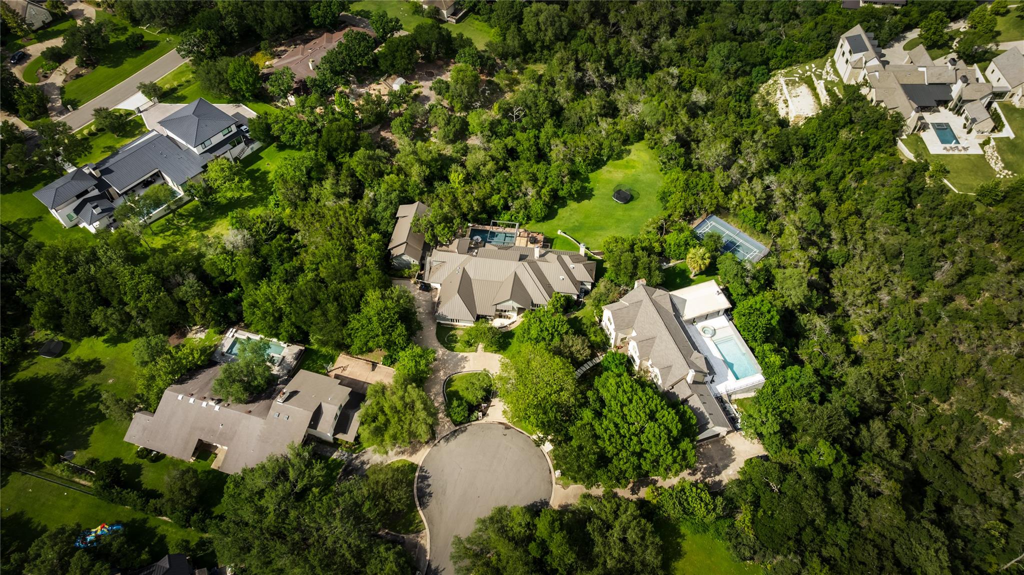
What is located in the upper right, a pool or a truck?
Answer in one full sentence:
Looking in the upper right, you will find a pool.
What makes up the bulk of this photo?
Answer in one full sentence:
The largest share of the image is taken up by trees.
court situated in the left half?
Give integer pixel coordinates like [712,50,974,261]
[329,354,396,390]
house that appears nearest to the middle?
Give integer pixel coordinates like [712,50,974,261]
[428,238,596,328]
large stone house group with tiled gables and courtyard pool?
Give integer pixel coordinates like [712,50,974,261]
[833,24,1024,136]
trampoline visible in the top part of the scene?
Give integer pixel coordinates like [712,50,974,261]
[612,184,632,202]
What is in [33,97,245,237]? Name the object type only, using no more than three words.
house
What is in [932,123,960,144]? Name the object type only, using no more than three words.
swimming pool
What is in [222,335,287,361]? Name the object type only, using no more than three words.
swimming pool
